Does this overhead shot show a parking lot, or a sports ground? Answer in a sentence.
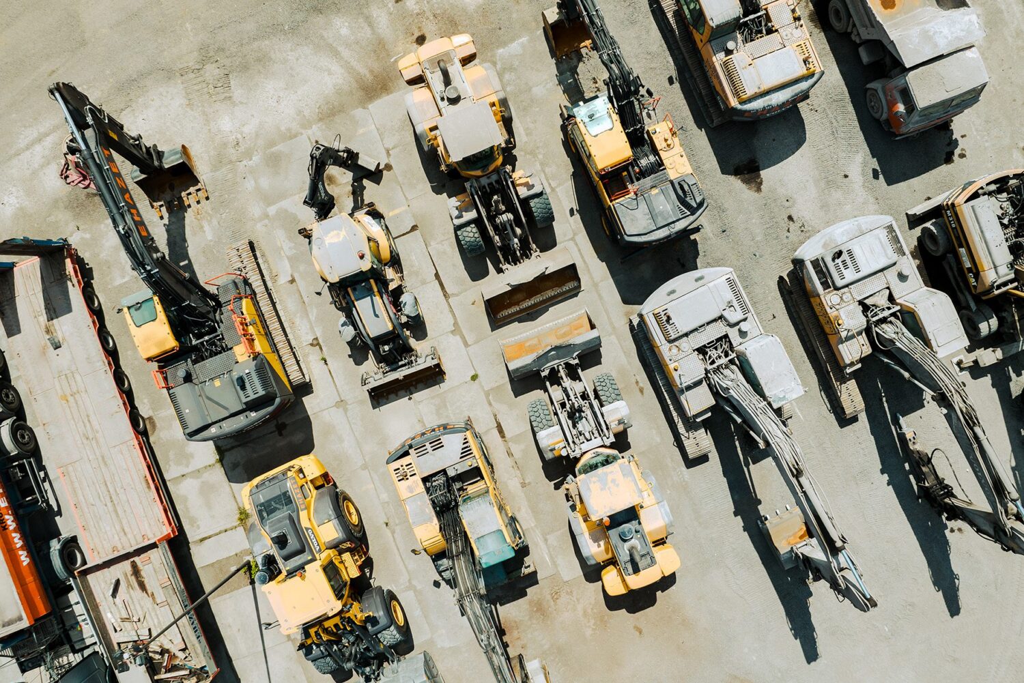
This looks like a parking lot.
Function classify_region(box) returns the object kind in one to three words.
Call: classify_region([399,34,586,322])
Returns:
work vehicle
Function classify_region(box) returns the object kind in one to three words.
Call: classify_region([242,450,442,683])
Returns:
work vehicle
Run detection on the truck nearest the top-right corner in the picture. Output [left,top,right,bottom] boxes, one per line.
[827,0,987,149]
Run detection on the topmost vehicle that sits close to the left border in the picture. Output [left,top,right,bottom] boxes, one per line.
[44,78,315,440]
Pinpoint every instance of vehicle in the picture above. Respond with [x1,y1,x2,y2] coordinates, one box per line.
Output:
[776,216,1024,564]
[242,450,442,683]
[293,134,446,406]
[627,267,883,613]
[44,78,315,440]
[540,0,707,249]
[386,416,541,683]
[0,352,116,683]
[399,34,586,322]
[493,299,680,595]
[651,0,824,126]
[902,168,1024,374]
[827,0,987,149]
